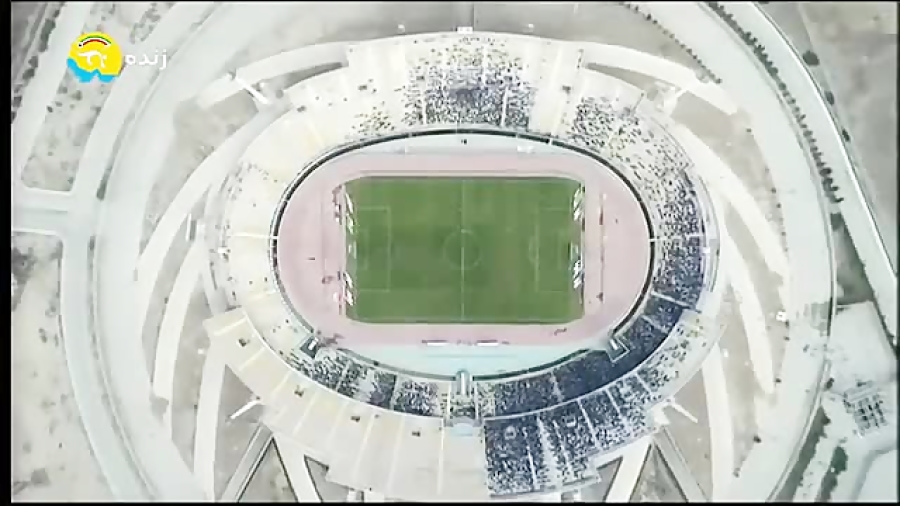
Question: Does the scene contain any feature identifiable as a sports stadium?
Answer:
Yes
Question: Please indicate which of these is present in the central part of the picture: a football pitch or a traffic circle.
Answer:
football pitch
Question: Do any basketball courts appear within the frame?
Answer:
No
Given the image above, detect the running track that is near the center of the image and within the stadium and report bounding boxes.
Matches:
[275,129,655,377]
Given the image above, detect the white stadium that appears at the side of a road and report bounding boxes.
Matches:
[191,33,733,504]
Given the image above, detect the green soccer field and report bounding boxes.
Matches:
[342,175,586,326]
